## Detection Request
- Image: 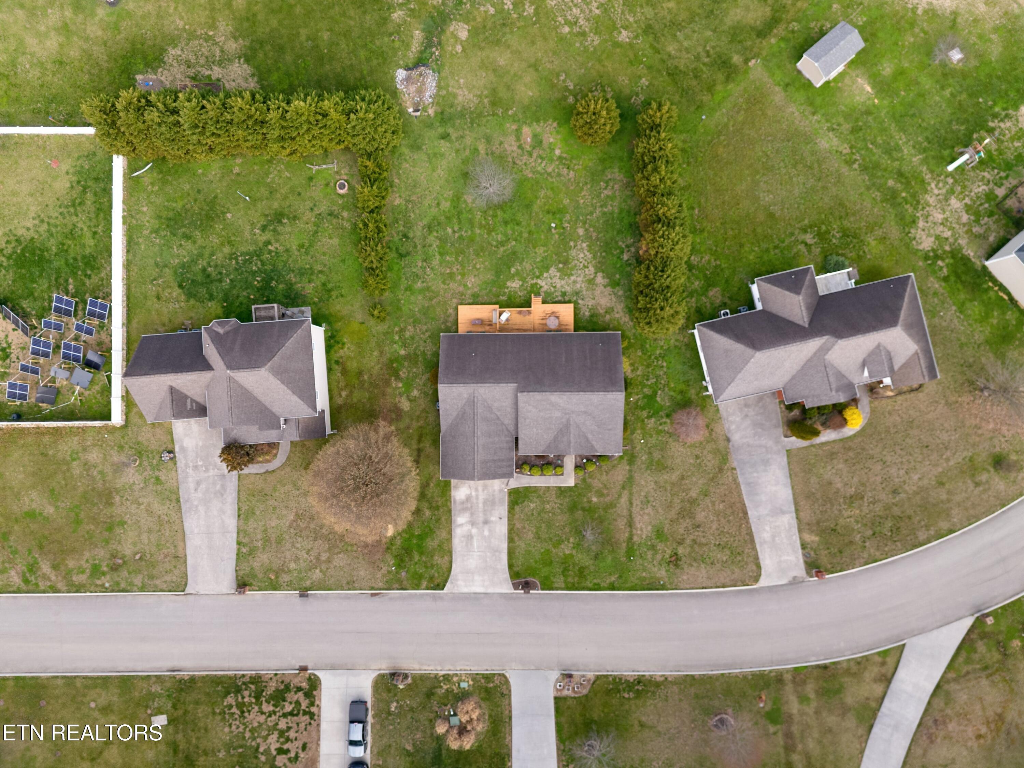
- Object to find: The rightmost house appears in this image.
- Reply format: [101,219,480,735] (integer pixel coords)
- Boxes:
[979,230,1024,308]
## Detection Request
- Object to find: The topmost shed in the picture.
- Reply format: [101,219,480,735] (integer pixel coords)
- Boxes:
[795,21,865,87]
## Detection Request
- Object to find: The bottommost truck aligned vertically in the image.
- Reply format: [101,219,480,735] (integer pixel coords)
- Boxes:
[343,699,369,760]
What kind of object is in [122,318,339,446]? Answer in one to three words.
house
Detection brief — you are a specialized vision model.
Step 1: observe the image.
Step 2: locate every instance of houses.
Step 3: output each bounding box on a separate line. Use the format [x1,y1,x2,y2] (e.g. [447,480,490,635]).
[979,230,1024,308]
[122,318,339,446]
[438,331,625,481]
[686,265,940,408]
